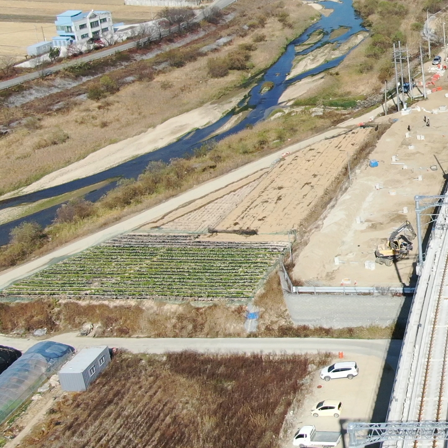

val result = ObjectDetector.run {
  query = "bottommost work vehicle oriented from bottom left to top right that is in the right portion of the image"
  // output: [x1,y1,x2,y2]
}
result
[372,219,432,265]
